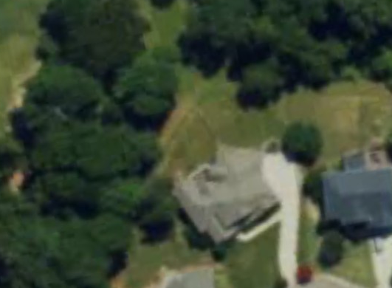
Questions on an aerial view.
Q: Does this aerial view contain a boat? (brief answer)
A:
No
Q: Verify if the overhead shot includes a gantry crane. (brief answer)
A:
No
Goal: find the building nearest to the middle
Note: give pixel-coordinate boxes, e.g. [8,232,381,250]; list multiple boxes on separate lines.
[172,145,282,242]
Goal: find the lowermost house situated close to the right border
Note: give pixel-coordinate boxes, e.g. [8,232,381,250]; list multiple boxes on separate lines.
[323,167,392,234]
